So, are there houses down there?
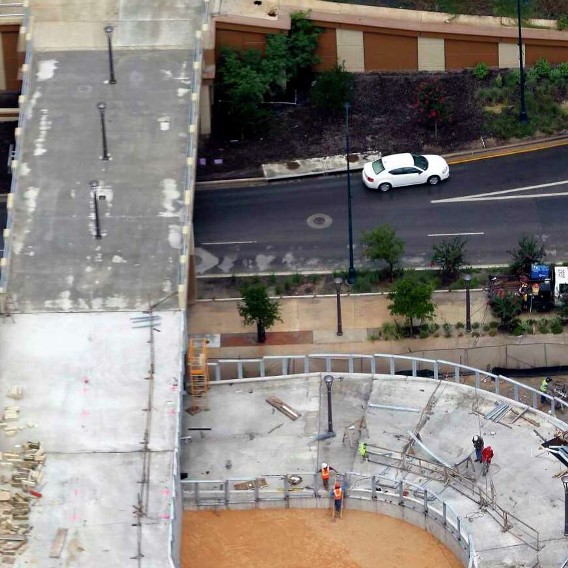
No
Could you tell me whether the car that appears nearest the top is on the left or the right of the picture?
right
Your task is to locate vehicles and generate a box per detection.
[487,261,568,316]
[358,148,451,191]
